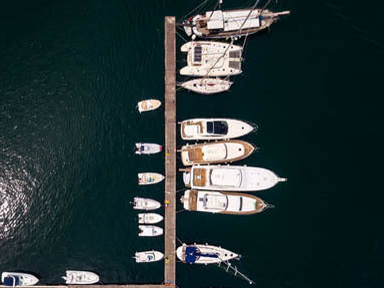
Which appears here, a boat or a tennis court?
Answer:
boat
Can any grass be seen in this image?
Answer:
No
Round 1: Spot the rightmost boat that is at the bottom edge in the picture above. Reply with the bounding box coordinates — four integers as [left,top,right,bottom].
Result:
[176,241,254,283]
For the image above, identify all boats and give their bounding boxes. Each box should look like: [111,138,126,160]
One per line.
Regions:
[176,0,259,80]
[185,25,192,36]
[63,271,100,285]
[2,272,40,287]
[176,190,275,214]
[182,172,189,185]
[176,164,290,193]
[131,250,166,263]
[136,225,164,236]
[131,197,165,210]
[176,140,259,167]
[176,241,254,283]
[176,118,259,142]
[134,143,164,154]
[176,63,233,95]
[135,172,165,184]
[136,93,165,113]
[135,213,165,224]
